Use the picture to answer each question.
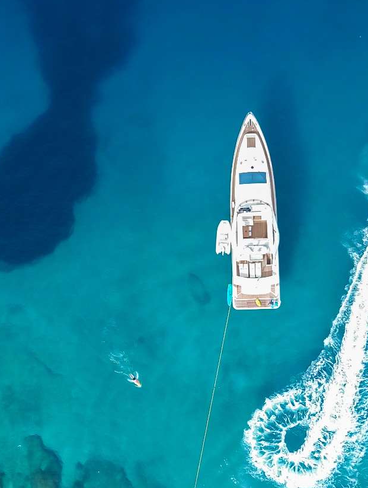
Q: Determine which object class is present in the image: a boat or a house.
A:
boat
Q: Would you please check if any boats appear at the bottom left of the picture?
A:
No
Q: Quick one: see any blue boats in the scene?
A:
No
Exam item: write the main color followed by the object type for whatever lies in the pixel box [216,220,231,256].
white boat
